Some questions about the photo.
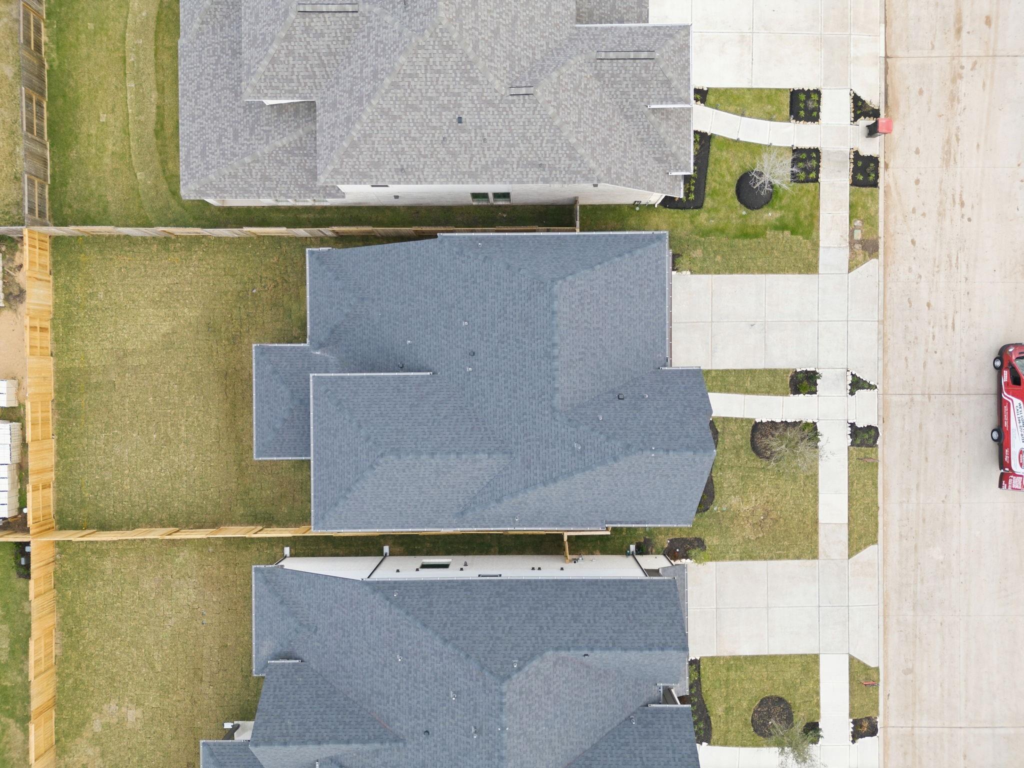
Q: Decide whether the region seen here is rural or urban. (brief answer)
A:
urban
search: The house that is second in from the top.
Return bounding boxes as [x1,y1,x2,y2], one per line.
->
[251,230,715,533]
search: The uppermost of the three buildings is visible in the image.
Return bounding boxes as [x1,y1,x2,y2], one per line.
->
[178,0,695,207]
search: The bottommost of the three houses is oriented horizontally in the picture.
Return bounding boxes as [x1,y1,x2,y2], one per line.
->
[199,550,701,768]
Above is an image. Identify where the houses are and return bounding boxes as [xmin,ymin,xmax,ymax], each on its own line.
[199,550,701,768]
[251,230,715,533]
[178,0,695,207]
